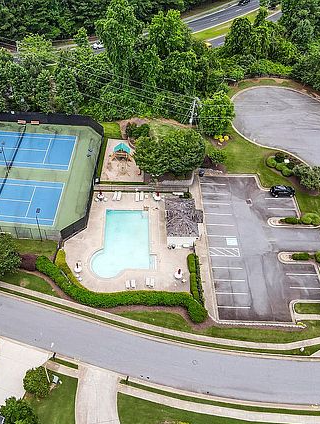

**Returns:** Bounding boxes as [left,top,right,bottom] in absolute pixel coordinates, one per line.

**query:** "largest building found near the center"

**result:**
[163,199,203,246]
